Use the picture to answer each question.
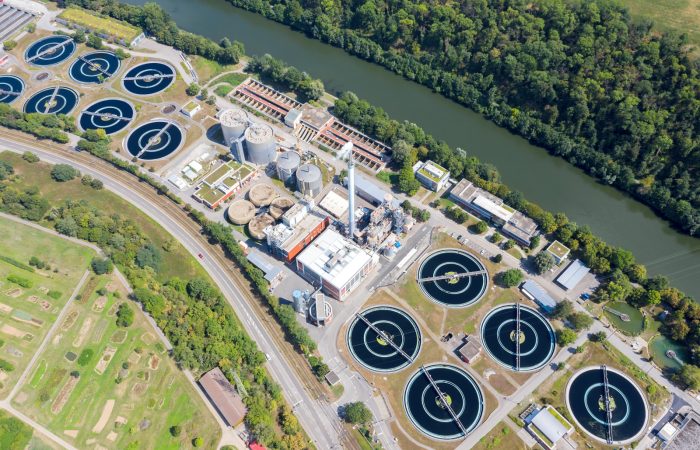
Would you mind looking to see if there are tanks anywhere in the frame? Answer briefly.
Yes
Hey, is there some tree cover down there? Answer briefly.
Yes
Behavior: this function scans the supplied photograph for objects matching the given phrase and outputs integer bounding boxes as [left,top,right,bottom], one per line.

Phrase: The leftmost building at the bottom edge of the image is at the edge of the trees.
[199,367,247,428]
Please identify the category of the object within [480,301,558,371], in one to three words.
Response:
storage tank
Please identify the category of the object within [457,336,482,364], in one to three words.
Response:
building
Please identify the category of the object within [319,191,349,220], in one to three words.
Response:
shed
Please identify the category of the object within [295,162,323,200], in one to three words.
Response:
silo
